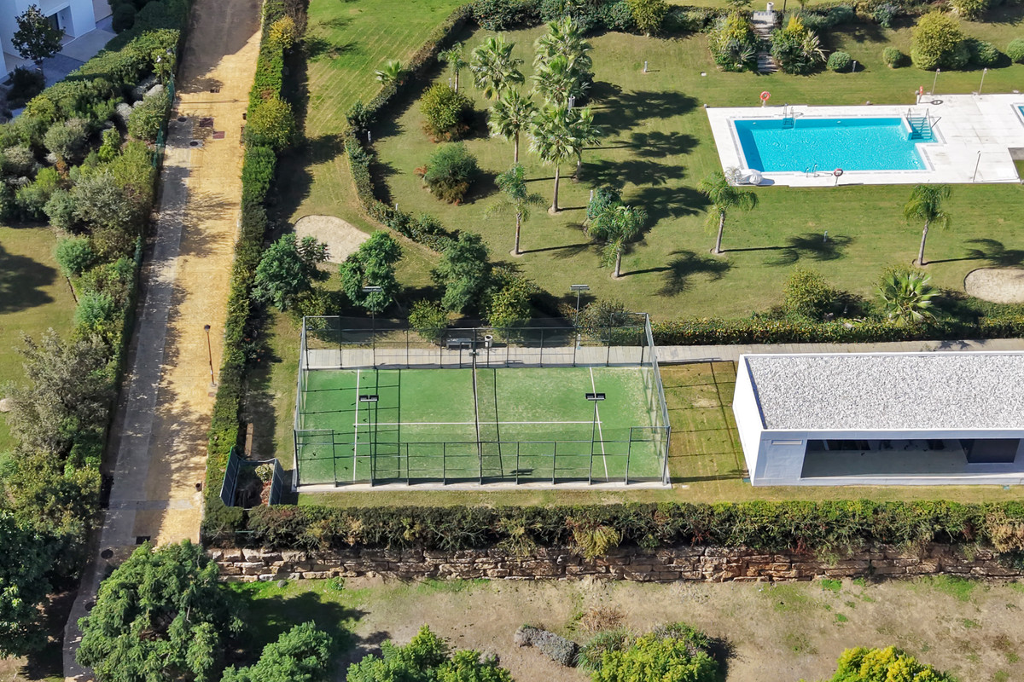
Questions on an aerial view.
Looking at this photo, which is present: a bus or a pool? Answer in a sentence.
I can see a pool in this picture.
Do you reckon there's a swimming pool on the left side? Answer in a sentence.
No, no swimming pool can be made out on the left side.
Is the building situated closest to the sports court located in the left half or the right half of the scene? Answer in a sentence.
The building situated closest to the sports court sits on the right side.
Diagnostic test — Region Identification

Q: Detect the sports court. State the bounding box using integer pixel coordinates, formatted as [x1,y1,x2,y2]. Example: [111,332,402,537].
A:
[291,313,671,493]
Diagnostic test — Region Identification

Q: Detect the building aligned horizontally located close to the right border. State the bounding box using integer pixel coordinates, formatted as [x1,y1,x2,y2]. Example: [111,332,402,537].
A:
[732,351,1024,486]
